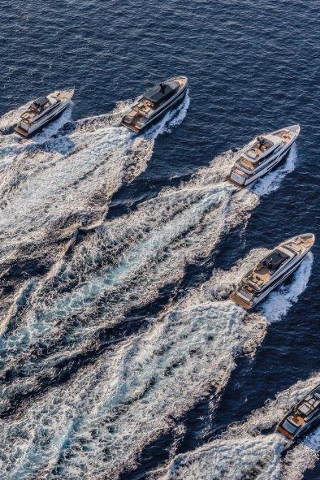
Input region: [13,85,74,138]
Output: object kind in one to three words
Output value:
boat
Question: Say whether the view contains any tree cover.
No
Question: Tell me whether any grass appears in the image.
No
